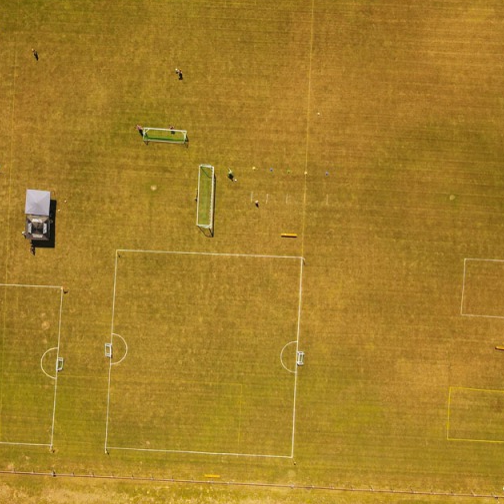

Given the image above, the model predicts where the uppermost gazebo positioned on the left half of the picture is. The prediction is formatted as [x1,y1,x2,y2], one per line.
[25,189,52,215]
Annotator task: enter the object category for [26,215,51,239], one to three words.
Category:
gazebo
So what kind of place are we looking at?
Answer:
sports ground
